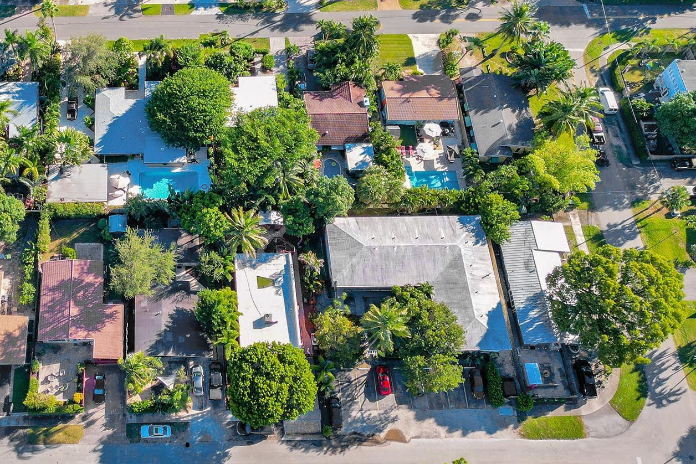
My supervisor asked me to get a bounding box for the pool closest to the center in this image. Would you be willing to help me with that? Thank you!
[321,156,344,178]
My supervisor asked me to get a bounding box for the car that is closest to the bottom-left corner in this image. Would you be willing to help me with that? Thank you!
[91,373,105,405]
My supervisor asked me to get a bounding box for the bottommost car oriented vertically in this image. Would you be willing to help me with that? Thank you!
[328,394,344,429]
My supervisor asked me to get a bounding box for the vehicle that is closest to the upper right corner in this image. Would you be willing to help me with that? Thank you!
[598,87,622,115]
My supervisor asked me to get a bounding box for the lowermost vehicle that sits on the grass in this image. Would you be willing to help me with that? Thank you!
[140,423,171,439]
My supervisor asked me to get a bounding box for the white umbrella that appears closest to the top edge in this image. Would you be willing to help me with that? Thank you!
[423,125,440,140]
